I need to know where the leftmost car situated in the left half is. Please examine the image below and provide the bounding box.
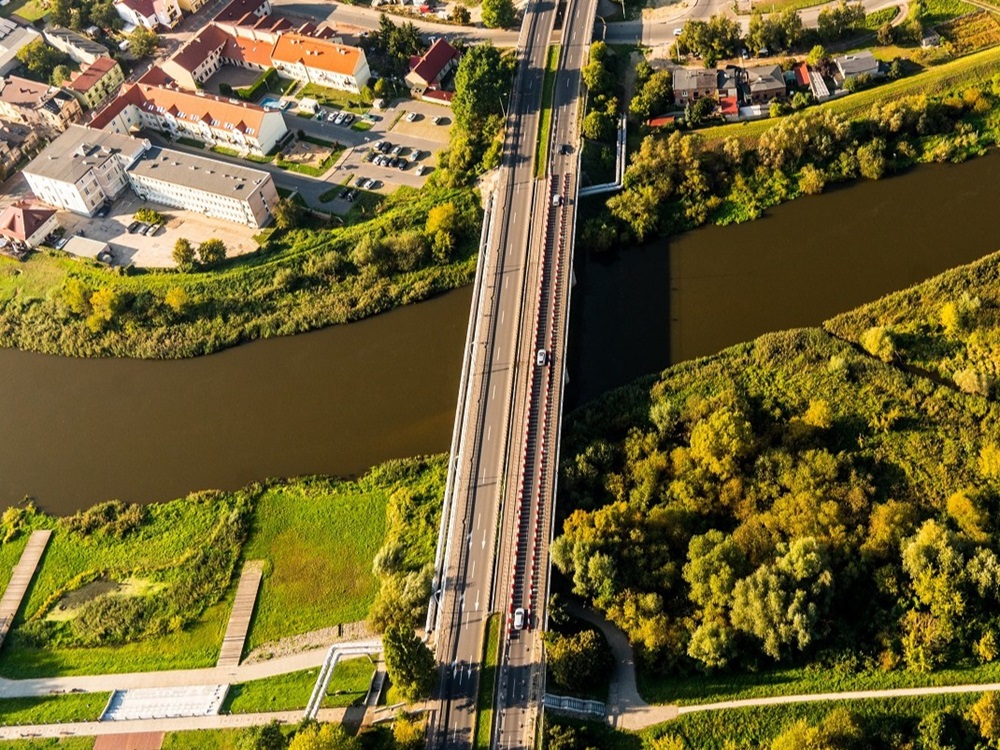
[53,236,68,250]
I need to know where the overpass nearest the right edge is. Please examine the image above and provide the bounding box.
[517,0,597,58]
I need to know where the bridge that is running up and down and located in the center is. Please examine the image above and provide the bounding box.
[437,169,580,621]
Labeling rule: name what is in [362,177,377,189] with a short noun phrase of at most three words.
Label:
vehicle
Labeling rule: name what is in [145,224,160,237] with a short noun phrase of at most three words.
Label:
vehicle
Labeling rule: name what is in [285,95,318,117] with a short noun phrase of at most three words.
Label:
shed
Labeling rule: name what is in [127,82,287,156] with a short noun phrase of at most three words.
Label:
house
